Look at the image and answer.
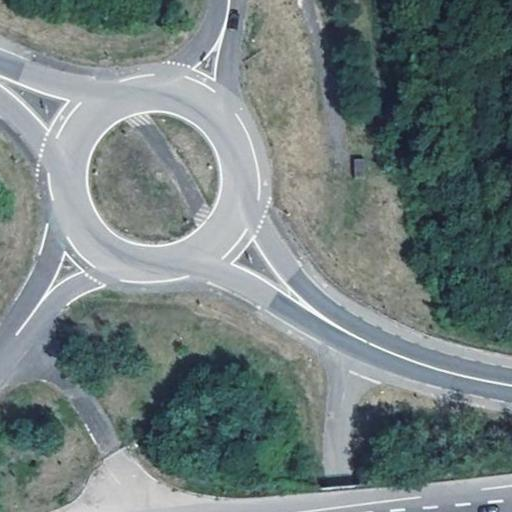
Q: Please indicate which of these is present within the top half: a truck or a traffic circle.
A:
traffic circle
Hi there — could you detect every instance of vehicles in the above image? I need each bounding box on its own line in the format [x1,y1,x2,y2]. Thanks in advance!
[478,506,500,512]
[228,8,239,30]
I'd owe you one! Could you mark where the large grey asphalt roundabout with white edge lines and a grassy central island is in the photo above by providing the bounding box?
[36,61,272,285]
